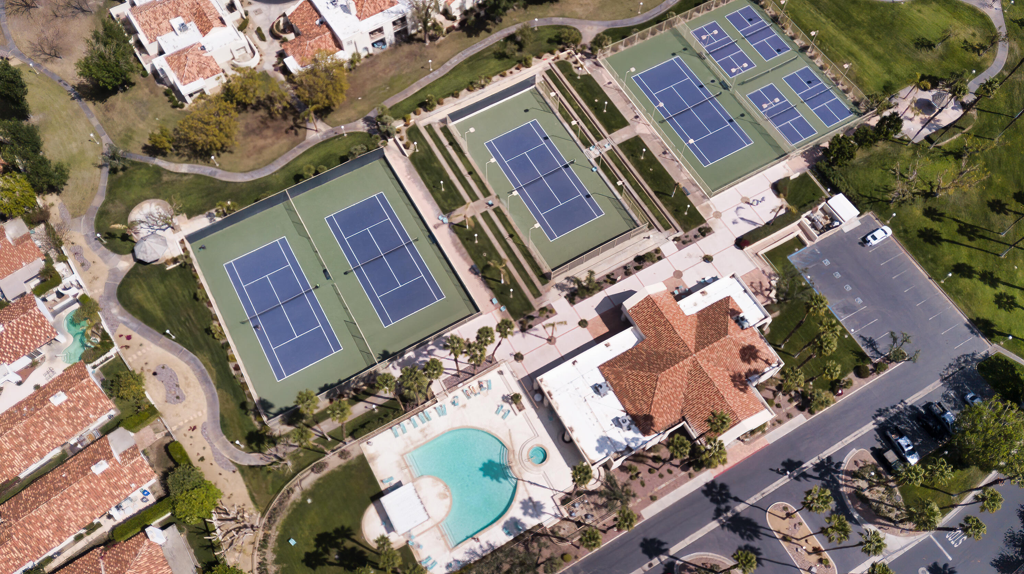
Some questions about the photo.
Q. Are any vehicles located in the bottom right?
Yes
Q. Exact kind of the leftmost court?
tennis court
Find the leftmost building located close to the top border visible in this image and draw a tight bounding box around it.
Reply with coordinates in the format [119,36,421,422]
[110,0,261,107]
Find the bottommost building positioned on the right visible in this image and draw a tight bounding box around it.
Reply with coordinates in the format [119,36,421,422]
[535,262,785,475]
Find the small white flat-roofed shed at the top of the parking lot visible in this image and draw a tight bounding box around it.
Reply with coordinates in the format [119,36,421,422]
[827,193,861,232]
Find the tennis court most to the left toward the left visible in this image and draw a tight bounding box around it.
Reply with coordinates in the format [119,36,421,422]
[190,198,374,416]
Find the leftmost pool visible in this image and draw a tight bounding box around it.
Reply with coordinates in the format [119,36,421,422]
[59,307,91,365]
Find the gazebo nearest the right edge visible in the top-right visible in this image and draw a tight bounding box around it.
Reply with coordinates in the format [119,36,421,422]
[926,92,955,117]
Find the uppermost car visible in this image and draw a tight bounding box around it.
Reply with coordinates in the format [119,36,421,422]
[866,227,894,244]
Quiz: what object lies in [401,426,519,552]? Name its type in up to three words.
swimming pool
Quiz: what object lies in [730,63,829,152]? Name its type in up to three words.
sports court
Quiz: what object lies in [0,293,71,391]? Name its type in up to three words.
house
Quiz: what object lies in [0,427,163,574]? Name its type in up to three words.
house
